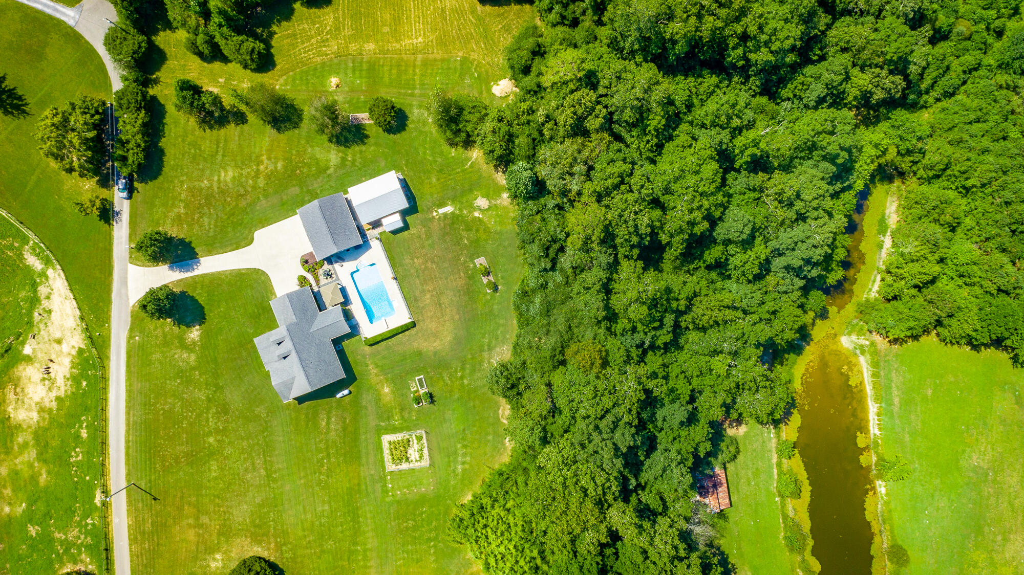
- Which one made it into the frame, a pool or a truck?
pool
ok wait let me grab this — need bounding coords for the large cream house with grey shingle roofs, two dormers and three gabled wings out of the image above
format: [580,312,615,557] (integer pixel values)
[253,285,352,403]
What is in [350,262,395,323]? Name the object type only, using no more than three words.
swimming pool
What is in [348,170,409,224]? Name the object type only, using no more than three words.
barn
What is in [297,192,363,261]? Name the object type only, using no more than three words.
building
